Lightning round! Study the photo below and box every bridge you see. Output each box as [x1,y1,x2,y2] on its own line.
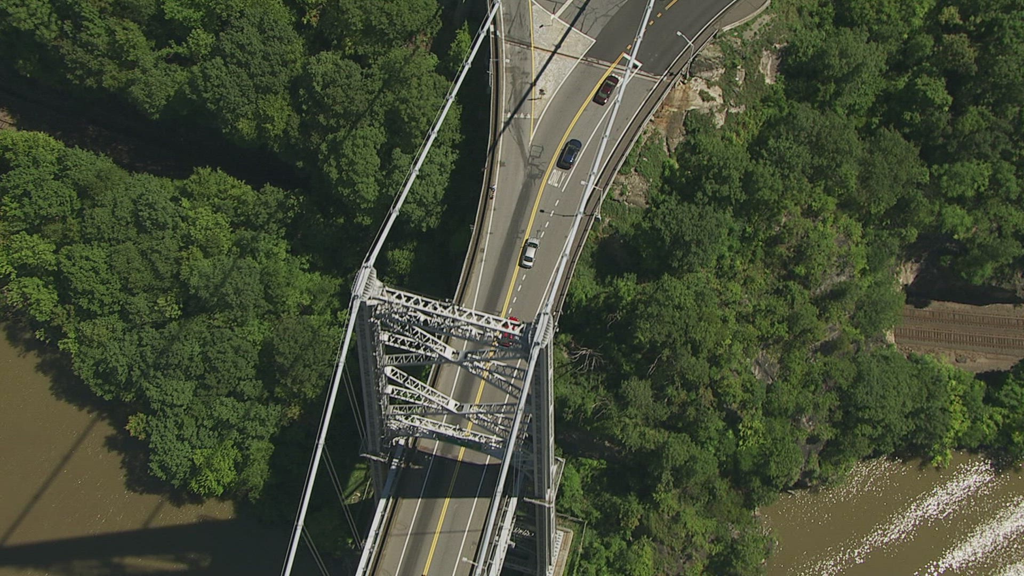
[281,0,682,576]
